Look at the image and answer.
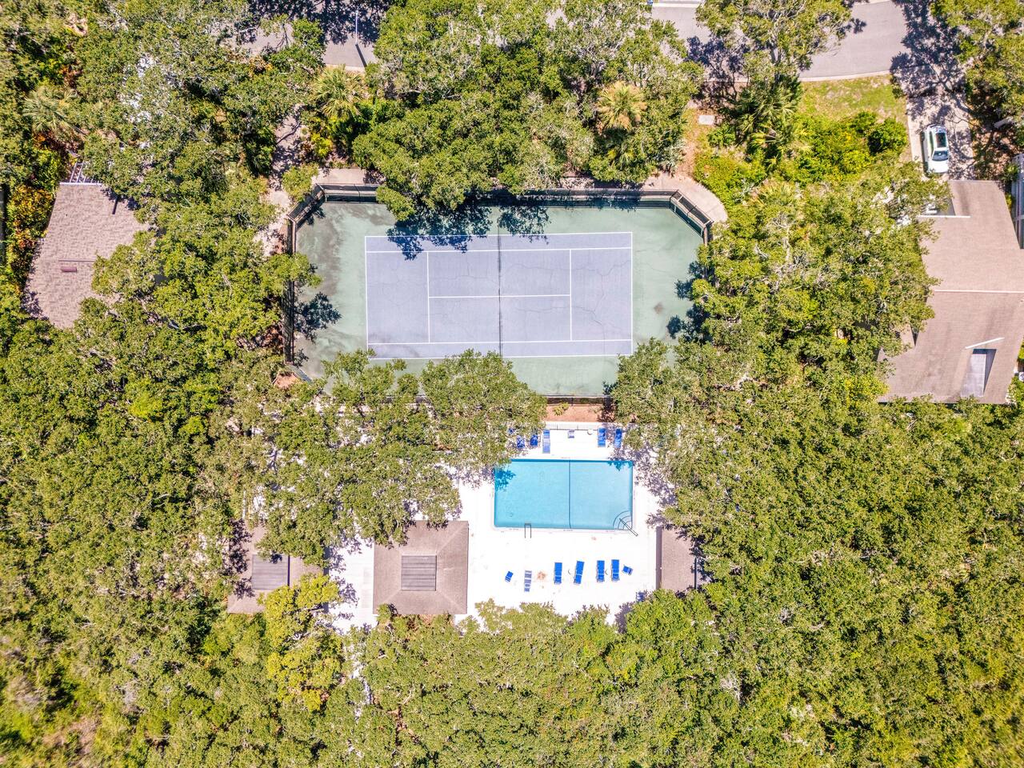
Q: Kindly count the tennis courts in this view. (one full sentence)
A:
Altogether the scene contains 1 tennis court.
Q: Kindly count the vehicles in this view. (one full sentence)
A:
There is 1 vehicle in the image.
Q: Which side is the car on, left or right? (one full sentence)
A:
The car sits on the right side.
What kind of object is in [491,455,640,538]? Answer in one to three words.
swimming pool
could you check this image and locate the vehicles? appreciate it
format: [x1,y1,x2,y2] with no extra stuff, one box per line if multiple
[923,125,952,175]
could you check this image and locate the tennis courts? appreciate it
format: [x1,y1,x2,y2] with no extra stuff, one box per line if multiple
[288,188,708,402]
